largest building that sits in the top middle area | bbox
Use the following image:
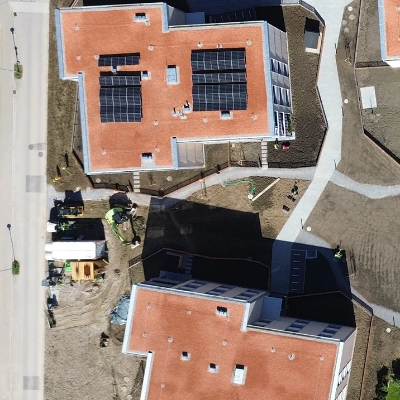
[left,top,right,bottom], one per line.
[55,2,296,175]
